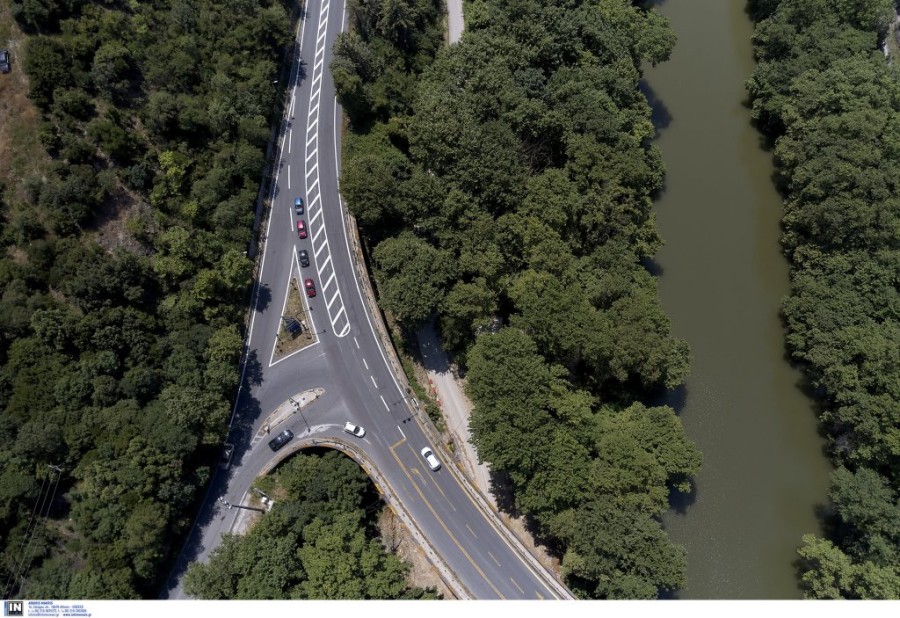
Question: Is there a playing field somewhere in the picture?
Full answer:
No, no playing field can be seen from above.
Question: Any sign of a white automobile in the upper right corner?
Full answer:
No, the scene shows no white automobile in the upper right corner.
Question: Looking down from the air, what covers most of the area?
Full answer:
The largest share of the image is taken up by trees.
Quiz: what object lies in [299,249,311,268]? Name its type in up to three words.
vehicle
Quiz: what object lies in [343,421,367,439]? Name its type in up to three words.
car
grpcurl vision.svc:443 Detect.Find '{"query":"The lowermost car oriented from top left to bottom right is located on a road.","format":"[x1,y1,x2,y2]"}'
[421,446,441,471]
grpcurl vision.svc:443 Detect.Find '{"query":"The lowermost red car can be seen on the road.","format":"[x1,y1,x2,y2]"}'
[304,278,317,299]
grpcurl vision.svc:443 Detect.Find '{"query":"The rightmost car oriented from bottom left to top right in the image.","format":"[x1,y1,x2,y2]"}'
[268,429,294,451]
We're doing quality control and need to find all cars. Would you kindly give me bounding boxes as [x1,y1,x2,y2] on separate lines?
[304,278,317,299]
[421,446,441,471]
[343,421,367,439]
[299,249,311,268]
[294,197,304,215]
[0,51,11,71]
[297,220,308,239]
[268,429,294,451]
